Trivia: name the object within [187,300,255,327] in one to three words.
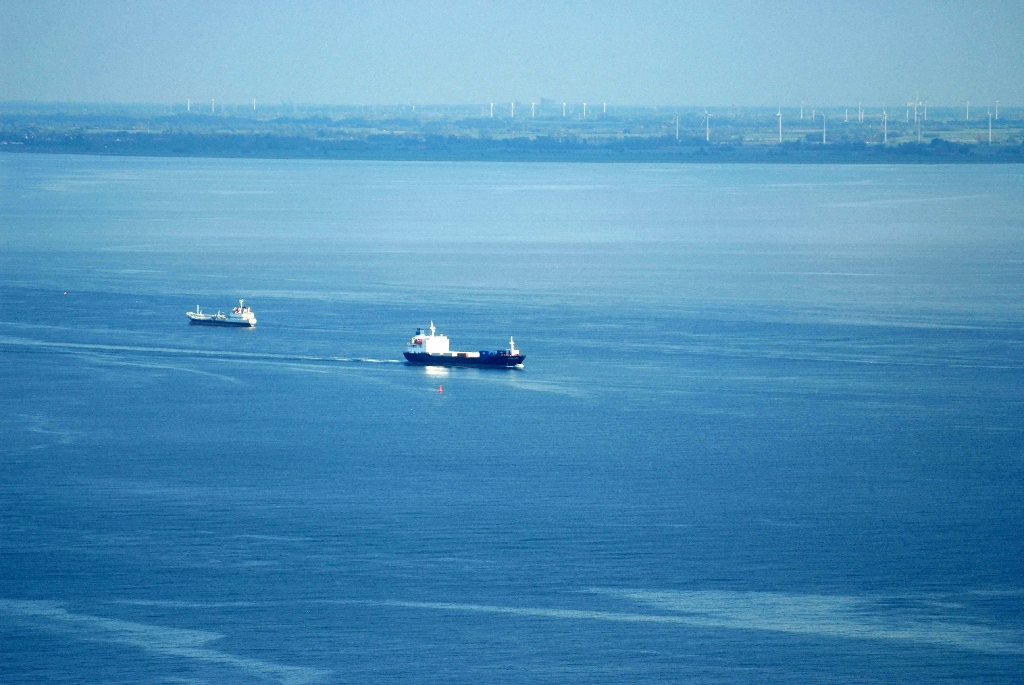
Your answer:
ship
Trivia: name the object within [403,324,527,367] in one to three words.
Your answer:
ship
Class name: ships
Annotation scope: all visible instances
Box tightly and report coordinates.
[403,324,527,367]
[187,300,255,327]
